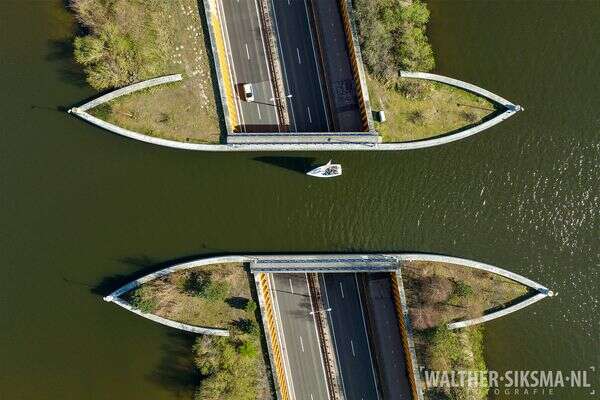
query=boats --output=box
[307,160,343,179]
